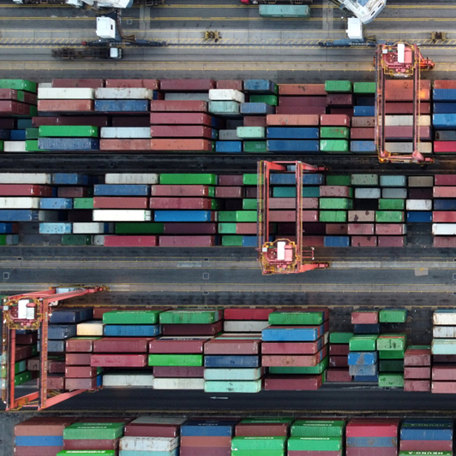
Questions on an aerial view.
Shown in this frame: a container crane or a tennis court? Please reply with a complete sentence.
This aerial view contains a container crane.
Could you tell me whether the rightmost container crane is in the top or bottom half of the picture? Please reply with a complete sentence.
Seen from above, the rightmost container crane lies in the top half of the view.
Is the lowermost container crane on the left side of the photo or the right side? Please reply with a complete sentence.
The lowermost container crane appears in the left half of the scene.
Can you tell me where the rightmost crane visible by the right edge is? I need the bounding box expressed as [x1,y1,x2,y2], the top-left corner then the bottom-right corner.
[372,41,434,164]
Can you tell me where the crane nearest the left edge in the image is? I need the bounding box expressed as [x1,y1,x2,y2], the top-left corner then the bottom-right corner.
[0,286,102,414]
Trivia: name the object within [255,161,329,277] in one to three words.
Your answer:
container crane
